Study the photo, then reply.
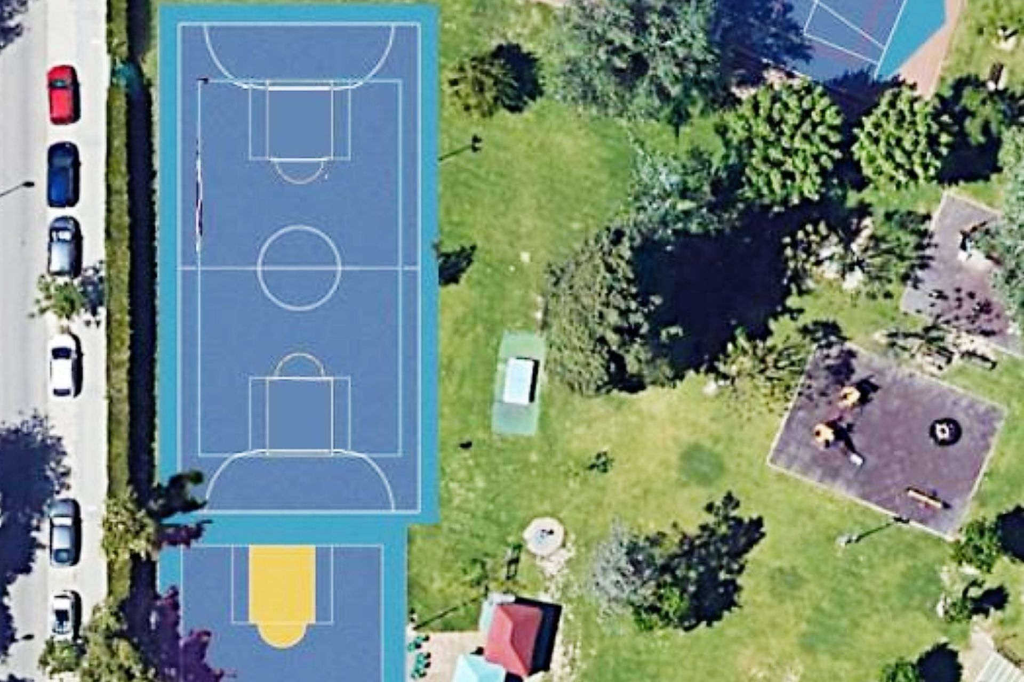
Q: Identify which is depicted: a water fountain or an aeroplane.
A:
water fountain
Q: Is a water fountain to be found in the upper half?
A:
No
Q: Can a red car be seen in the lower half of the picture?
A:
No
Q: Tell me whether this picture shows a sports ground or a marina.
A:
sports ground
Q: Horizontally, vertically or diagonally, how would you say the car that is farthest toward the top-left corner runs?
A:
vertically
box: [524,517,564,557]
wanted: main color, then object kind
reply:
white fountain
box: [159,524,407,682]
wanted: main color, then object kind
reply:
blue sports court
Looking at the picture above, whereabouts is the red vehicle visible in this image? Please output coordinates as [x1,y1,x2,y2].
[46,64,74,124]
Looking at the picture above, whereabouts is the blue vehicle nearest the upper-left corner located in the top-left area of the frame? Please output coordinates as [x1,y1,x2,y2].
[47,142,75,206]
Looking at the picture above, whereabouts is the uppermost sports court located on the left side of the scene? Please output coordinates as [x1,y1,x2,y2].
[158,5,439,524]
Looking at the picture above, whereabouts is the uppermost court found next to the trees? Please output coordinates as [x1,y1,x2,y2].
[706,0,945,86]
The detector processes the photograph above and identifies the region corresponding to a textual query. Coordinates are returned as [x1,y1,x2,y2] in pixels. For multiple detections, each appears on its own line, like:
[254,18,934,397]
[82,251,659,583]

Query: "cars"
[48,500,76,566]
[48,335,76,397]
[50,589,77,645]
[46,64,74,124]
[47,142,75,206]
[48,216,75,275]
